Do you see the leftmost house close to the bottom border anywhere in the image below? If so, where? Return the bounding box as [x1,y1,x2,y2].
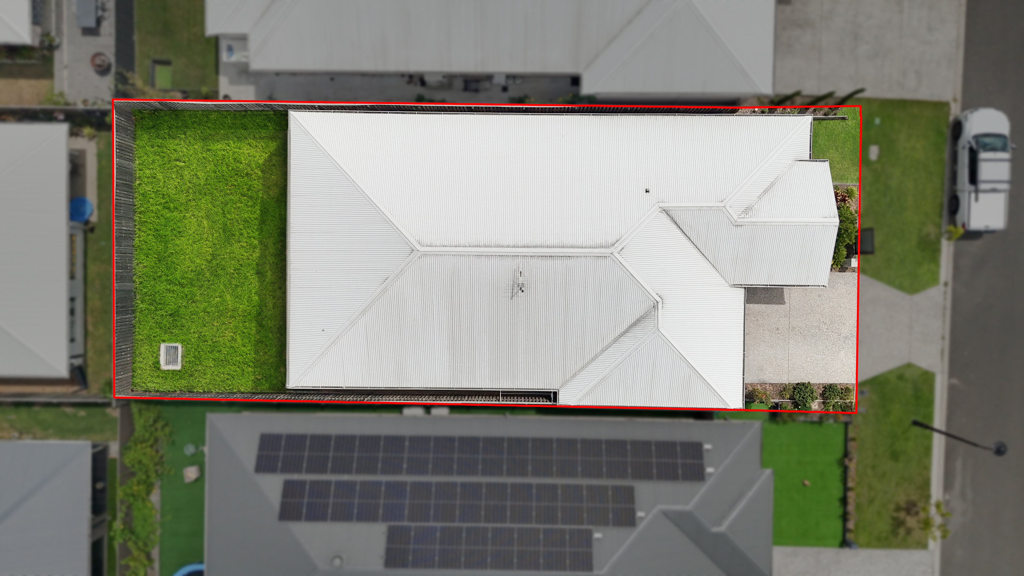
[0,437,115,576]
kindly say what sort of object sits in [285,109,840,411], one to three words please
house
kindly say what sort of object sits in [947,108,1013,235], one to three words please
truck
